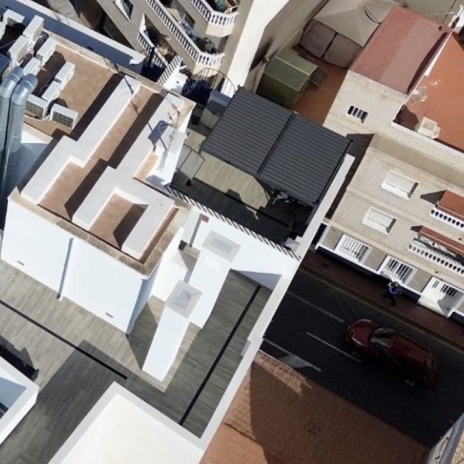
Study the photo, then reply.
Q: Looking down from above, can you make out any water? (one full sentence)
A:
No, the picture contains no water.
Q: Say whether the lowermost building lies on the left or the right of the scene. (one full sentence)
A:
The lowermost building sits on the right side.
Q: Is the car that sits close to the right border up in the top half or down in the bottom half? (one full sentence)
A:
It is in the bottom half that the car that sits close to the right border appears.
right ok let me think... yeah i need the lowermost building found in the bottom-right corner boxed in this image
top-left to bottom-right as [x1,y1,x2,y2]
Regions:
[423,414,464,464]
